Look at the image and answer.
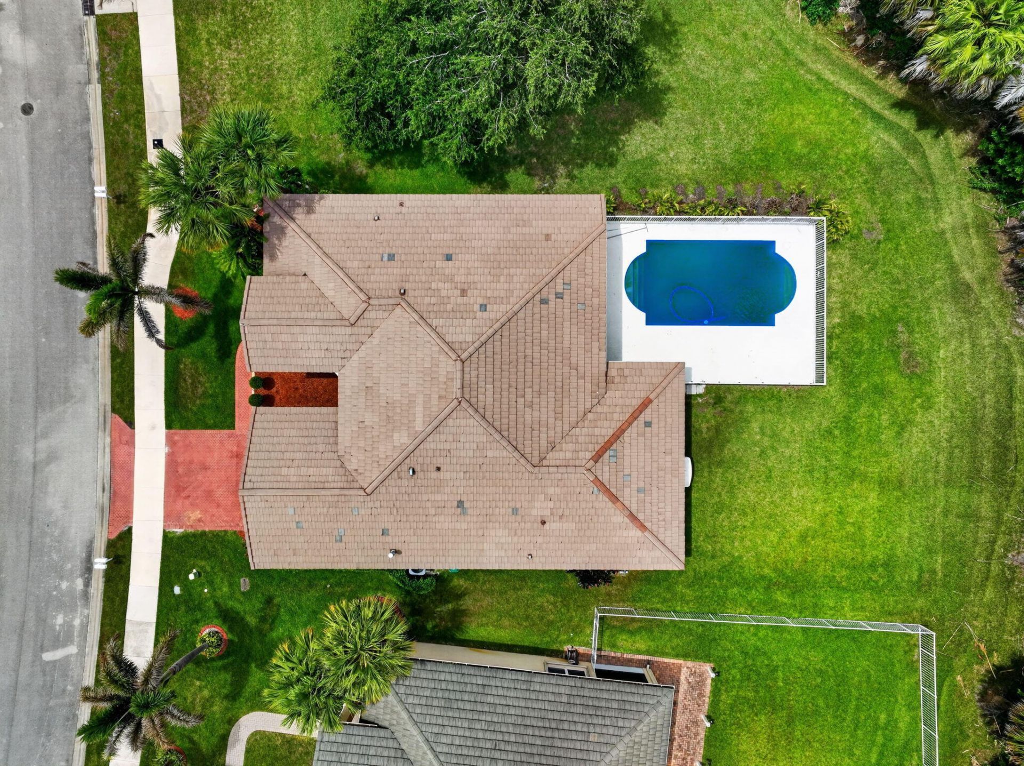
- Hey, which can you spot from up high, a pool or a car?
pool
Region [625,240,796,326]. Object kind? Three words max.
swimming pool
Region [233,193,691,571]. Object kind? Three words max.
house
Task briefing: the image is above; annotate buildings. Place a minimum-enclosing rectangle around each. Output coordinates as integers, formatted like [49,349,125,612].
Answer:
[312,641,675,766]
[233,193,691,571]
